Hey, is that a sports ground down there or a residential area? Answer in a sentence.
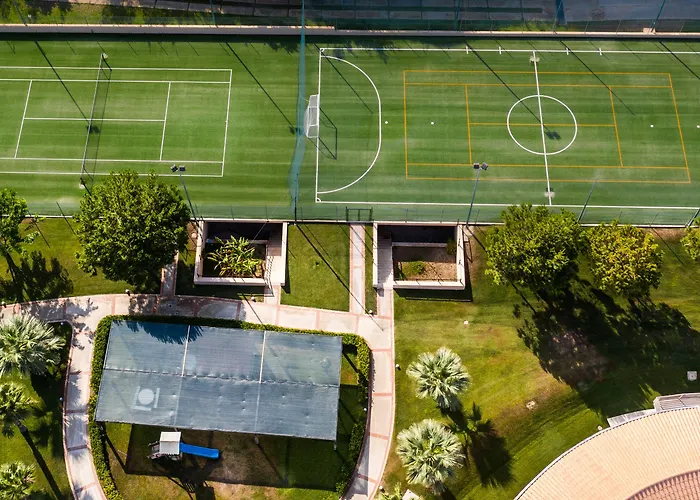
What you see here is a sports ground.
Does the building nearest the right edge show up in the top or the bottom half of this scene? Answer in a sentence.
It is in the bottom half that the building nearest the right edge appears.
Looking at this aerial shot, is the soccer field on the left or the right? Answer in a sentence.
The soccer field is on the right side of the image.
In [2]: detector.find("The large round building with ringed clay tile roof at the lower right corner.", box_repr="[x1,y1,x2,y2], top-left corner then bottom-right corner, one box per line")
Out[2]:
[512,389,700,500]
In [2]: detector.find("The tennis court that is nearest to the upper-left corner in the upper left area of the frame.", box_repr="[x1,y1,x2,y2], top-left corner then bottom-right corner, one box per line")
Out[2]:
[0,31,305,221]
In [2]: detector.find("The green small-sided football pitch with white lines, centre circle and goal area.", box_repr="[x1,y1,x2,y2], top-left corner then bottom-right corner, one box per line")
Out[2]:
[297,36,700,226]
